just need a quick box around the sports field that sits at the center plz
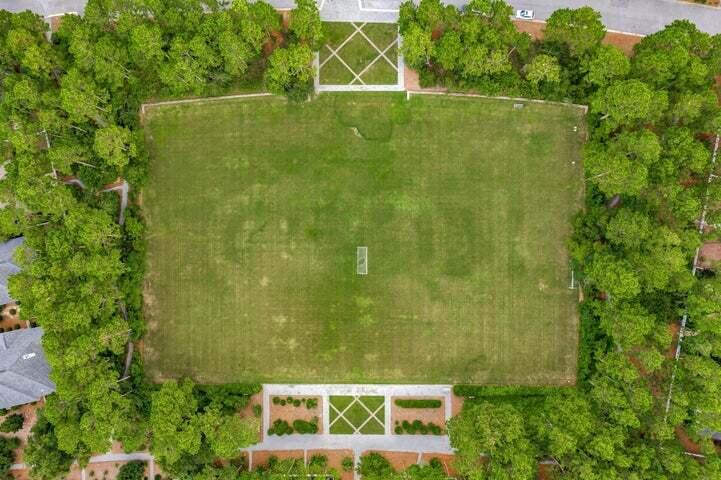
[142,91,588,384]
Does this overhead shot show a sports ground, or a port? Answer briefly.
sports ground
